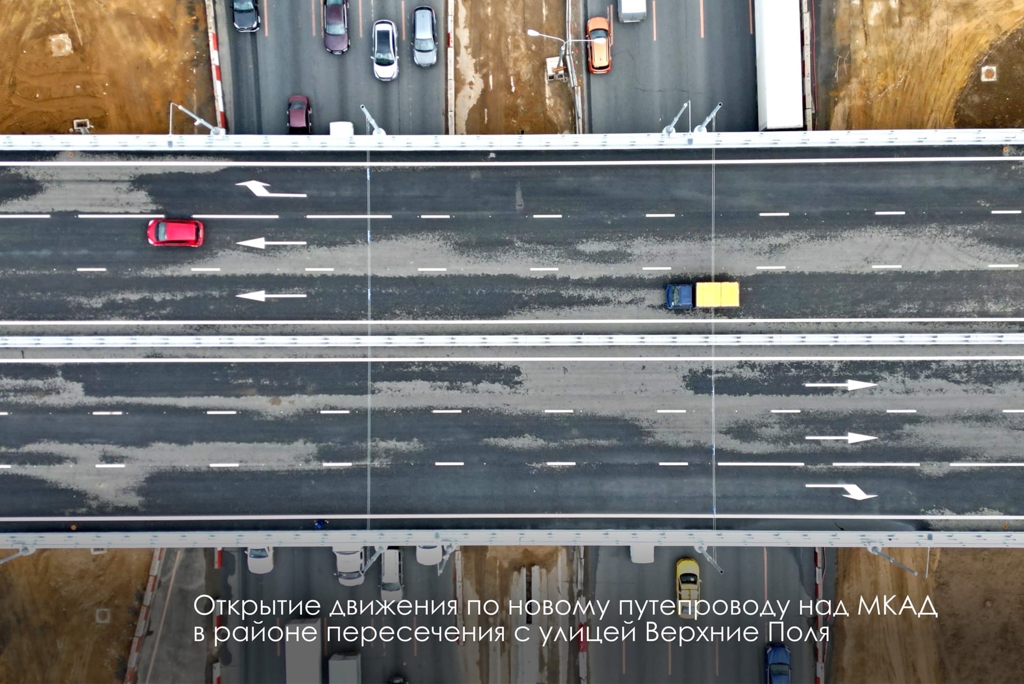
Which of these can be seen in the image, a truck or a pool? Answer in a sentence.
This aerial view contains a truck.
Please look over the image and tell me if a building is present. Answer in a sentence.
No, I can't see a single building in this photo.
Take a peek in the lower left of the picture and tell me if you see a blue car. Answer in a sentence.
No, I see no blue car in the lower left of the picture.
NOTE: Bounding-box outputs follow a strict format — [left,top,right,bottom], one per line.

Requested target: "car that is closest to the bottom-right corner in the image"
[765,643,795,684]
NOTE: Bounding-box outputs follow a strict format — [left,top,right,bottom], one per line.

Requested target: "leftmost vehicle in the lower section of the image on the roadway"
[243,548,274,574]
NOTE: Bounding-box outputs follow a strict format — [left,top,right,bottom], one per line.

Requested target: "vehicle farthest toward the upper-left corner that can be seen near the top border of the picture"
[228,0,260,34]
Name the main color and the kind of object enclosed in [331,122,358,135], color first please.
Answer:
white vehicle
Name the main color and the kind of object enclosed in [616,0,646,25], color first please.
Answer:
white vehicle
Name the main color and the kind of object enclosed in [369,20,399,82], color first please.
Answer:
white car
